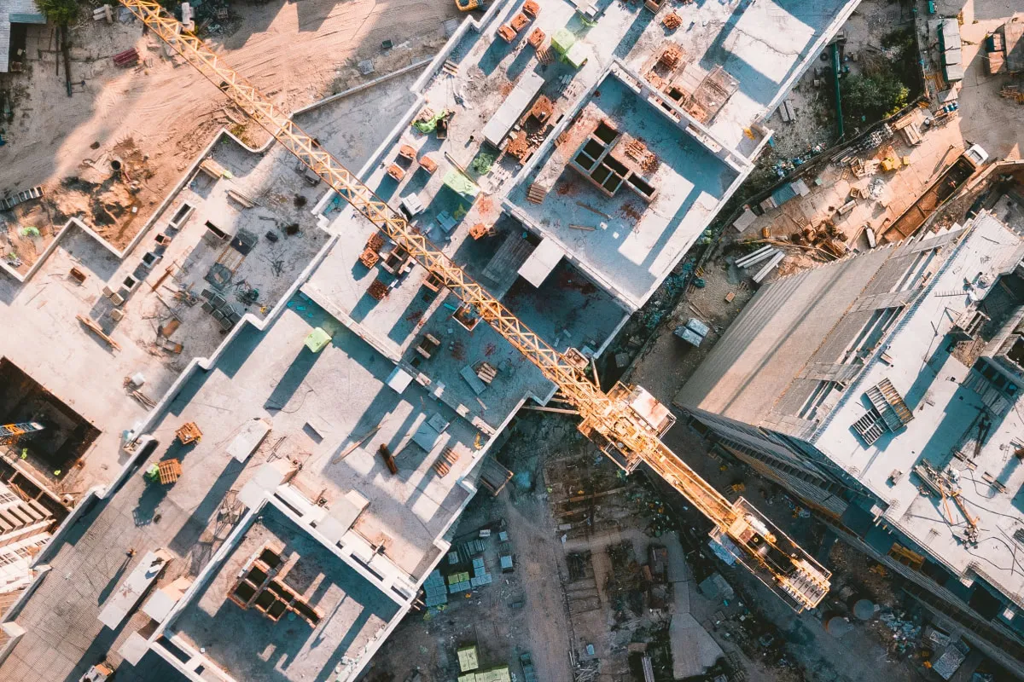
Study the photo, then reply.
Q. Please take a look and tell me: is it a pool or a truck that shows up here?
truck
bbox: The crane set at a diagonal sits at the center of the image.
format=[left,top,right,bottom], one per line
[115,0,849,619]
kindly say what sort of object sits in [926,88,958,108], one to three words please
shed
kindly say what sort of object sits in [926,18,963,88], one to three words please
shed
